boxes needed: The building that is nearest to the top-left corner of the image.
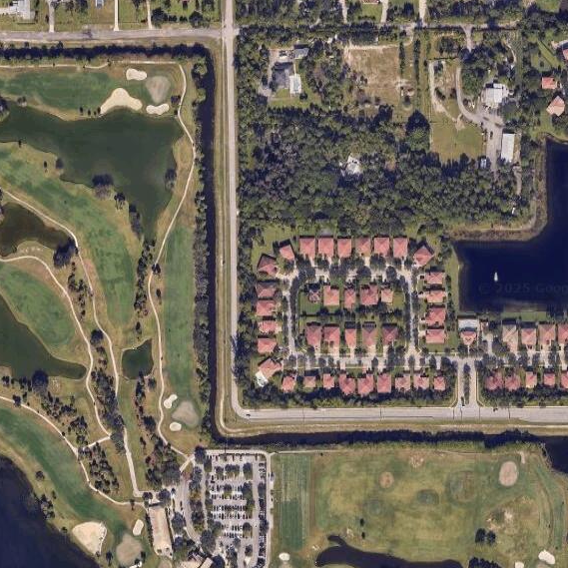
[11,0,30,19]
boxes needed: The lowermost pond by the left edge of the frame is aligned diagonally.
[0,297,87,379]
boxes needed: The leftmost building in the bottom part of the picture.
[148,506,172,558]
